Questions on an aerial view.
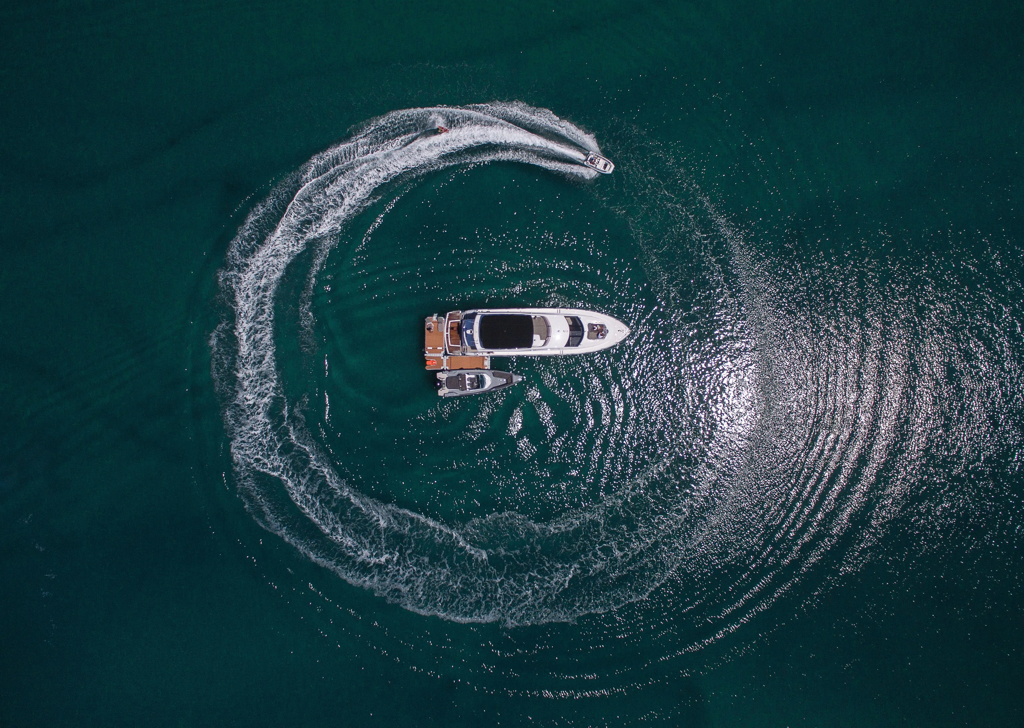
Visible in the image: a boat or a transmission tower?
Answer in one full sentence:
Of the two, only a boat appears.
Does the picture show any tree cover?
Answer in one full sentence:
No, there's no tree cover in this view.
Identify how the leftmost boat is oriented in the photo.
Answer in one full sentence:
The leftmost boat is laid out from side to side.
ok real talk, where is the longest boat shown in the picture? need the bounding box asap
[444,307,636,356]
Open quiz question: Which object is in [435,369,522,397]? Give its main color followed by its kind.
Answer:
gray boat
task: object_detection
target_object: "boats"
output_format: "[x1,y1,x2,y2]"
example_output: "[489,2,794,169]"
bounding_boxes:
[444,307,636,356]
[584,151,615,174]
[435,369,522,397]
